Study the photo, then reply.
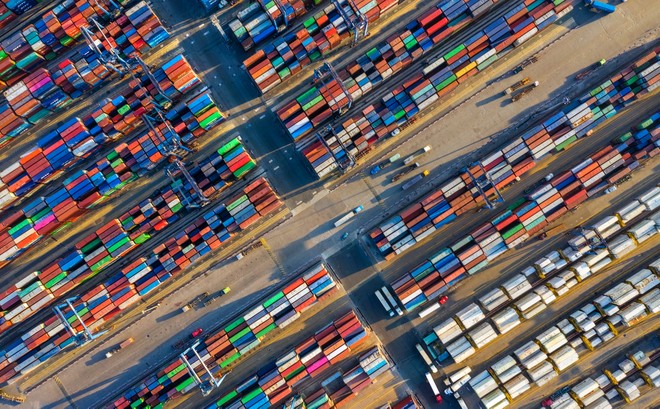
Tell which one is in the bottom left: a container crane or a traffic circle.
container crane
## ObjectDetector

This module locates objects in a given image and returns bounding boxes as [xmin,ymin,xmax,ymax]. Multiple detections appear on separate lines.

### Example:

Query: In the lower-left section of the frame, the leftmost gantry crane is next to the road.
[53,290,111,346]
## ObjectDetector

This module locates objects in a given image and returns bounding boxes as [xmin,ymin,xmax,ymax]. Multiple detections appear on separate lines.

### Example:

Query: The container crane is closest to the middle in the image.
[311,125,354,179]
